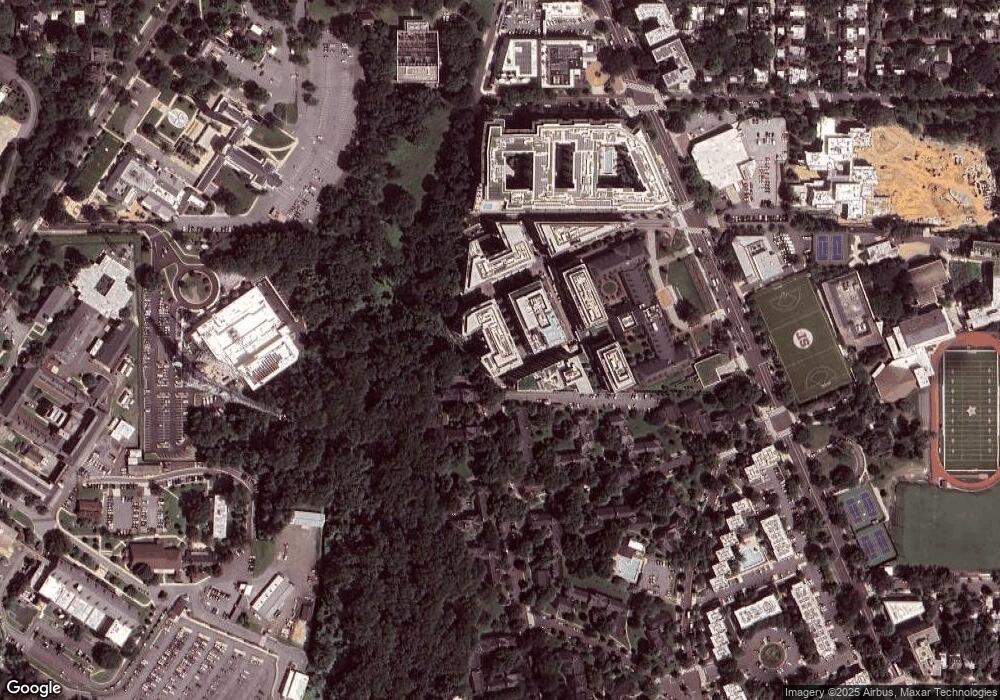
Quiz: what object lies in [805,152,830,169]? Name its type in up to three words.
building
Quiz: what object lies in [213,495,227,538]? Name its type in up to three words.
shed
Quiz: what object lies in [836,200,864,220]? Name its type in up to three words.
building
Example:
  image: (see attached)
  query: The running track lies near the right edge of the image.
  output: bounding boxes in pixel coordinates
[931,331,1000,488]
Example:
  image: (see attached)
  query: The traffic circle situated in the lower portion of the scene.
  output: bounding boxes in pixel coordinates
[744,626,802,684]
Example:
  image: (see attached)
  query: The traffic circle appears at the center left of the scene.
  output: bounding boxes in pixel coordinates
[170,262,221,312]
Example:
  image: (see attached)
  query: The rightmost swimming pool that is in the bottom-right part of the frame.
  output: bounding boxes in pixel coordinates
[738,538,770,574]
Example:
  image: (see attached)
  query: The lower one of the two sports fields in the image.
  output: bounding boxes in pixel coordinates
[938,349,1000,480]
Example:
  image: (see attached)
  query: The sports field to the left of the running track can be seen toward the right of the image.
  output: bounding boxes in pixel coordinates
[756,277,852,403]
